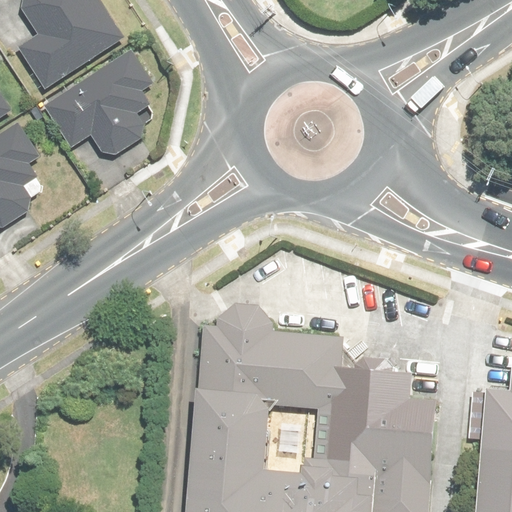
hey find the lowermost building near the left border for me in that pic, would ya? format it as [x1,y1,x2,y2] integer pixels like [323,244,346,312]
[0,122,44,227]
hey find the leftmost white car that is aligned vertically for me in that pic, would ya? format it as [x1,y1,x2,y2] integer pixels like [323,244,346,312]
[344,276,359,308]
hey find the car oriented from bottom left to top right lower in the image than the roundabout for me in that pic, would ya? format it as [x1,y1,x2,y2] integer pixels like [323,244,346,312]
[254,258,284,282]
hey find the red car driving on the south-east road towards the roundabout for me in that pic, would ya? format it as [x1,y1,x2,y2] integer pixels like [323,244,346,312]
[463,256,494,272]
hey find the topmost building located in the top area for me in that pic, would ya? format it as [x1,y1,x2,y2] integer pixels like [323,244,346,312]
[18,0,124,90]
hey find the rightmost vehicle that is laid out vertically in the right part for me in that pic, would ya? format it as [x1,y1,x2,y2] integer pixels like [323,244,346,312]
[383,290,398,322]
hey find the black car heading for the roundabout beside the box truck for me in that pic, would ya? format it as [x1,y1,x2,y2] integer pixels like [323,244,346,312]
[449,47,480,74]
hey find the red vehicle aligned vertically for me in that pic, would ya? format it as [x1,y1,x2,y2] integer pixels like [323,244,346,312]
[362,284,377,311]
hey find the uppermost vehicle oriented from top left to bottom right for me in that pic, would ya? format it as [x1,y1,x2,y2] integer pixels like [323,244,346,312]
[330,66,364,96]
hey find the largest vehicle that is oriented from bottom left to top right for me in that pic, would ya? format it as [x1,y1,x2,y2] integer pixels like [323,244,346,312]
[402,76,445,118]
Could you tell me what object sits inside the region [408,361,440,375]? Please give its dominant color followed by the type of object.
white car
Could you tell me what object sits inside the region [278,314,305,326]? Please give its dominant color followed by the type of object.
white vehicle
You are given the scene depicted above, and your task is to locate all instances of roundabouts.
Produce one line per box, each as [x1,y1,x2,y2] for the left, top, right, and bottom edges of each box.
[264,82,364,182]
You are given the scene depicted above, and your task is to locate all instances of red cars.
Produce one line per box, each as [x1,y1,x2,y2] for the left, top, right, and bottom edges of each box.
[463,256,494,272]
[362,284,377,311]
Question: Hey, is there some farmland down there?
No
